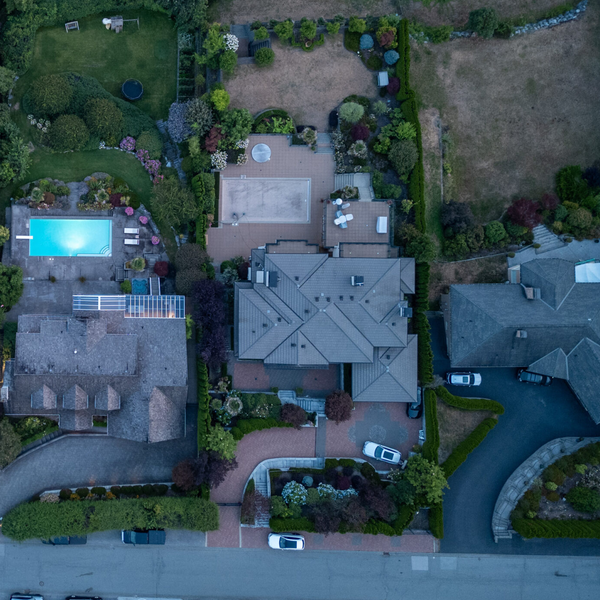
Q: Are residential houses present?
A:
Yes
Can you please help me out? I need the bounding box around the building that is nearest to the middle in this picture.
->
[231,249,418,403]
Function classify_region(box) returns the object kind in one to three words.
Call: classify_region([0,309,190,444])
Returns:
house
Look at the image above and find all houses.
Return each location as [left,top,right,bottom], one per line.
[0,309,190,444]
[231,249,418,403]
[437,259,600,424]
